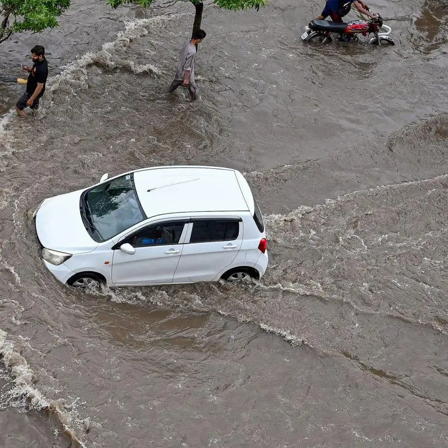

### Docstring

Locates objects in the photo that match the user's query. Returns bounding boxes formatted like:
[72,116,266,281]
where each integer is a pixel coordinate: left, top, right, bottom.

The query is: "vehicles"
[35,163,269,283]
[301,0,401,48]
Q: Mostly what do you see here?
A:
water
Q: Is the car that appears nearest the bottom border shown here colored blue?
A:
No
